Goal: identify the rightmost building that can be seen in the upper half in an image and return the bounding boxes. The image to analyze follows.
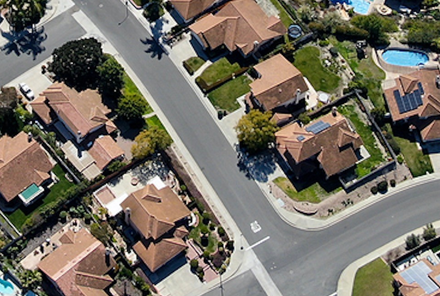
[386,69,440,144]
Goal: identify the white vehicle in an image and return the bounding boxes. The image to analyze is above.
[19,83,35,100]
